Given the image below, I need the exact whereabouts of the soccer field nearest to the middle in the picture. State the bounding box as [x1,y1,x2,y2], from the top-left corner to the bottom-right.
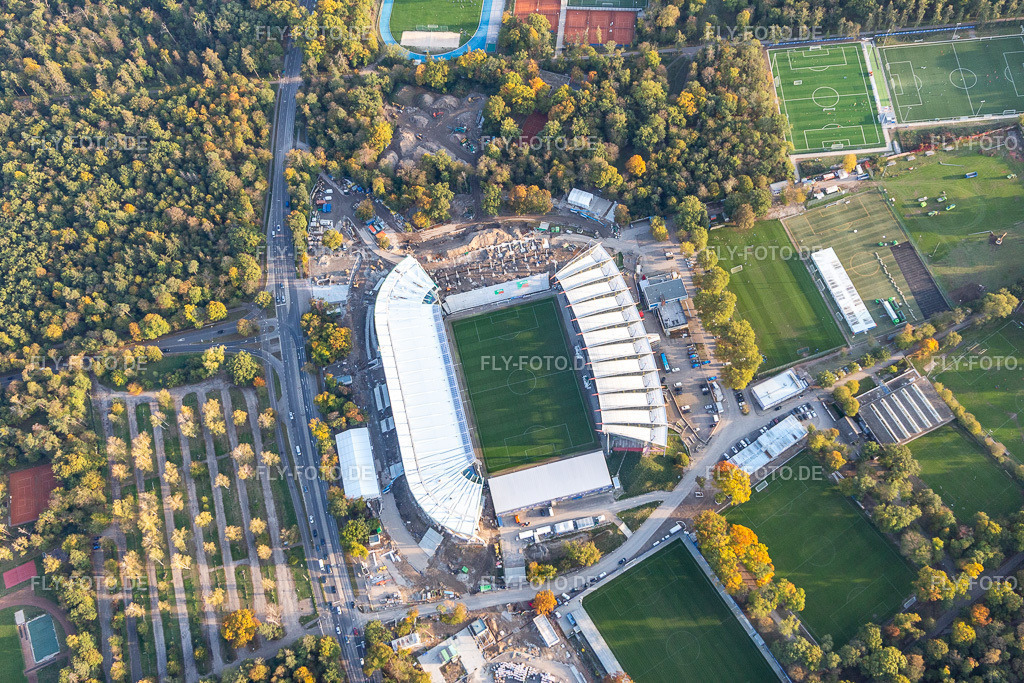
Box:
[443,280,607,479]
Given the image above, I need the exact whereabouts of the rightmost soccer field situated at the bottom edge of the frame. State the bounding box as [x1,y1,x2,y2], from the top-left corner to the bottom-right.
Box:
[717,457,925,658]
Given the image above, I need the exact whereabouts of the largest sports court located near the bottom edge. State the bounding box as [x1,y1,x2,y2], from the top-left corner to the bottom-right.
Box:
[25,615,58,662]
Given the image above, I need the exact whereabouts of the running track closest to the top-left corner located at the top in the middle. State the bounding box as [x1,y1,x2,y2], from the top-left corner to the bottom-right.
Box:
[379,0,508,58]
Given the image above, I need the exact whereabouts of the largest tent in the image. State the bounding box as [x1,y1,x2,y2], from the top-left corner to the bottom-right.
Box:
[335,428,381,501]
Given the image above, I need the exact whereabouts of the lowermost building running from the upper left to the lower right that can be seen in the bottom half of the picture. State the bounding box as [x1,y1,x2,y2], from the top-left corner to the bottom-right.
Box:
[532,614,559,646]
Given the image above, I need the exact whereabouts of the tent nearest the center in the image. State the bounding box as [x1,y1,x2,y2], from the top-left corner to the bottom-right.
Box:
[567,189,594,209]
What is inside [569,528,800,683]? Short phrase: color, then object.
green soccer field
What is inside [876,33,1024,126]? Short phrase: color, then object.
green soccer field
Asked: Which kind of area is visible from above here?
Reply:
sports ground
